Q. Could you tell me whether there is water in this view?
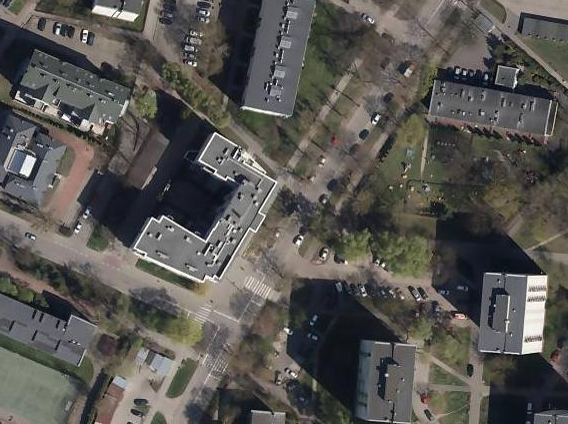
No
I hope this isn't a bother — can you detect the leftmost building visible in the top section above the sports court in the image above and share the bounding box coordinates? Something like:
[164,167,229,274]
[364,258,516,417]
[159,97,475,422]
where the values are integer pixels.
[0,115,66,208]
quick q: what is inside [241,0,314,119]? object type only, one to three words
building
